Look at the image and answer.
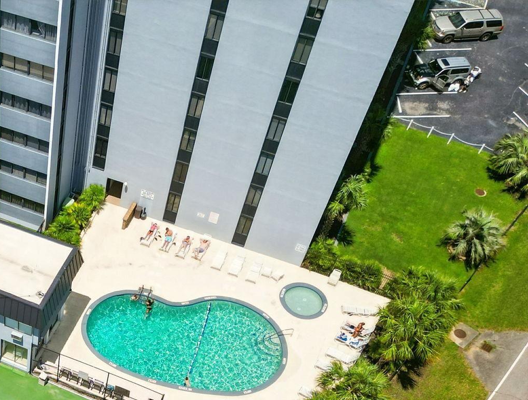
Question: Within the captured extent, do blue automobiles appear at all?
No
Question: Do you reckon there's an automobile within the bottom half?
No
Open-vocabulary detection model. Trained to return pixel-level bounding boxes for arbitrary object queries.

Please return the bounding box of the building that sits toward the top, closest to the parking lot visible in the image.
[0,0,418,267]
